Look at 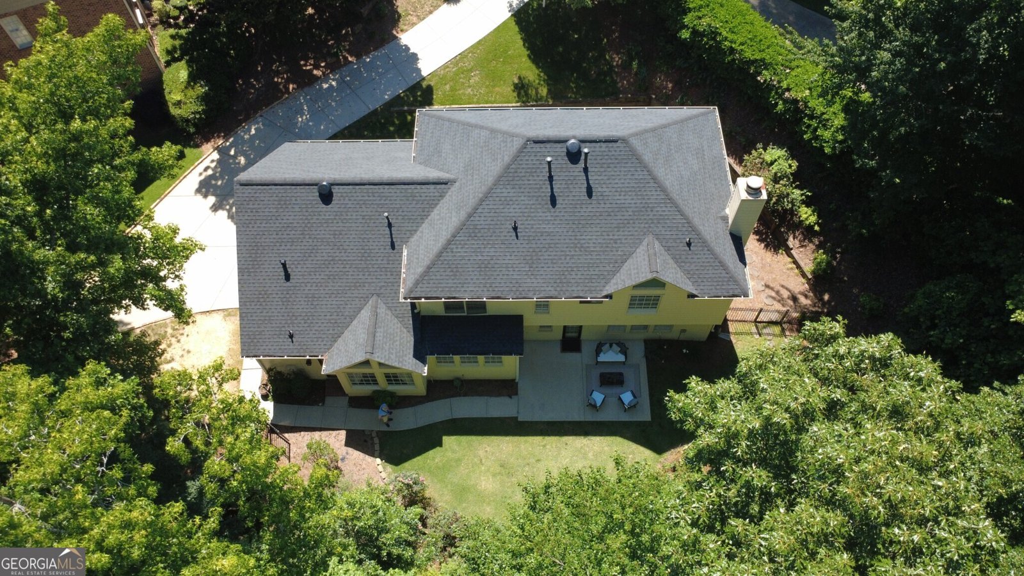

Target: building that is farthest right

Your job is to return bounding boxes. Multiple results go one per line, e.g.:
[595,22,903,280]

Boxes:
[236,106,768,395]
